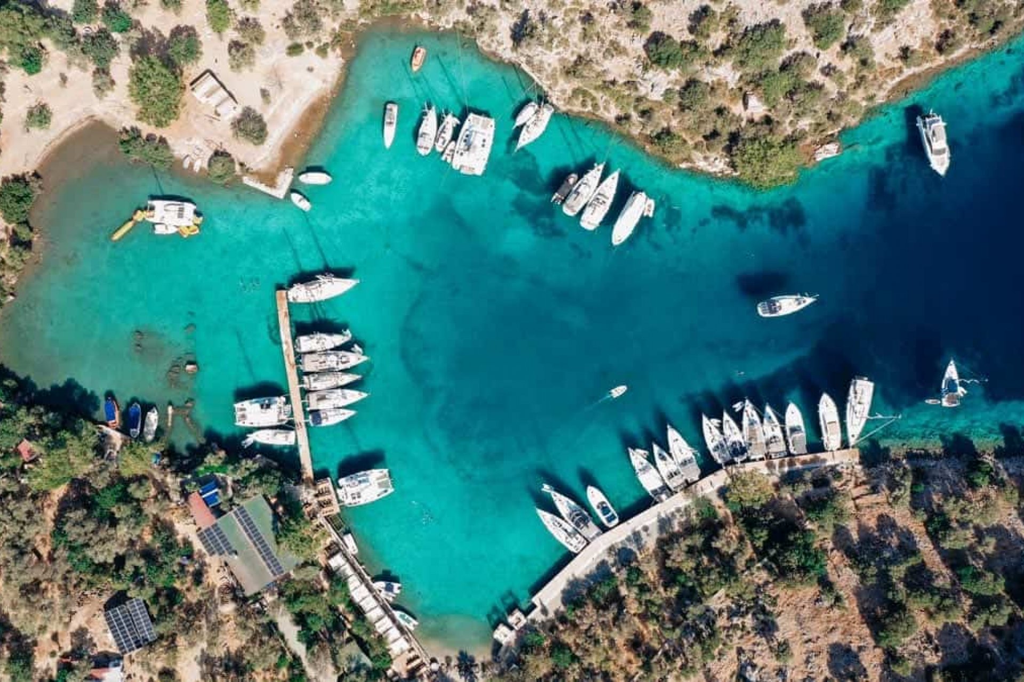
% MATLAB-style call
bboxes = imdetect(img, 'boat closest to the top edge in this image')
[411,45,427,71]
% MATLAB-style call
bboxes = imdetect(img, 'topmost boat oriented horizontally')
[299,171,332,184]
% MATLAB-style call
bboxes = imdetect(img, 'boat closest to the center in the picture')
[609,386,627,399]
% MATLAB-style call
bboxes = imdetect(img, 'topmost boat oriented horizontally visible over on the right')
[752,293,822,318]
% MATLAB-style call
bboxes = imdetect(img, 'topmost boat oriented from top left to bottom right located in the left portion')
[292,193,312,212]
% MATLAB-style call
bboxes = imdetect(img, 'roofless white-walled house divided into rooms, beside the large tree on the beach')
[190,70,241,117]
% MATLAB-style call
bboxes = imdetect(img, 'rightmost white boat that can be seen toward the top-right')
[913,111,949,174]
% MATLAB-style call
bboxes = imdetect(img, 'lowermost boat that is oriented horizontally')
[375,580,402,593]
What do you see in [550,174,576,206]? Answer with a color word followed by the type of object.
gray boat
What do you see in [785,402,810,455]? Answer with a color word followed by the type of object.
white boat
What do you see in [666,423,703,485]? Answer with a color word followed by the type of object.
white boat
